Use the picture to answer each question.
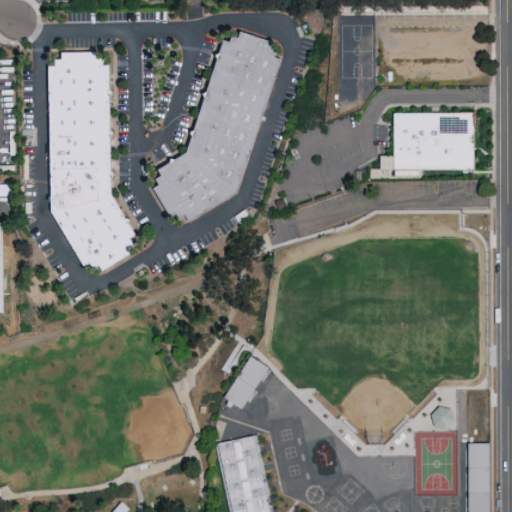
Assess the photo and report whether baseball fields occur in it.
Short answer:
Yes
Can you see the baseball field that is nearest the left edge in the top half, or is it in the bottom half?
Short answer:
bottom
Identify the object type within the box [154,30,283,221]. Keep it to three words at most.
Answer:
building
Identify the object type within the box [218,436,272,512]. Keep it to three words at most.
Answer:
building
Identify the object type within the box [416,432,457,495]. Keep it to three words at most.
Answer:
basketball court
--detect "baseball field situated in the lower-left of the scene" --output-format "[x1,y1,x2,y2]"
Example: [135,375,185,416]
[0,319,194,492]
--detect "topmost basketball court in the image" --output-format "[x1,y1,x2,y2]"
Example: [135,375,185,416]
[340,15,376,103]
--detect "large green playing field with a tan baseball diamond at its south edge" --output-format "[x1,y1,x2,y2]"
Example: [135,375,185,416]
[263,213,486,444]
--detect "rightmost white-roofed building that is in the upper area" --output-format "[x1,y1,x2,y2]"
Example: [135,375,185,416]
[394,112,475,170]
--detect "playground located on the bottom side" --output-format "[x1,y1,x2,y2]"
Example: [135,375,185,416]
[312,440,337,475]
